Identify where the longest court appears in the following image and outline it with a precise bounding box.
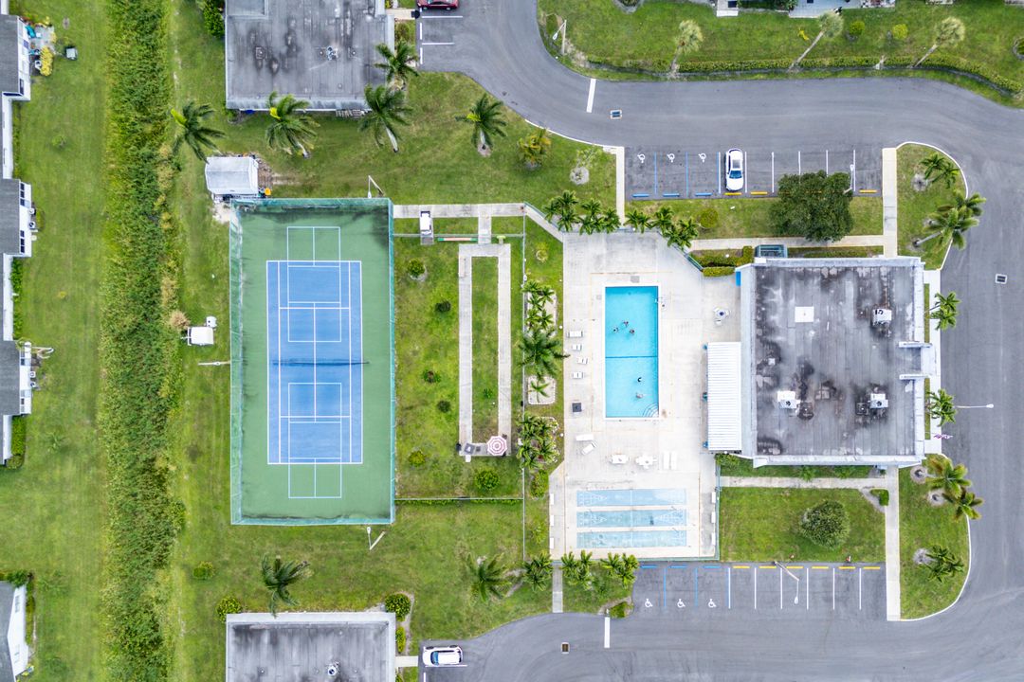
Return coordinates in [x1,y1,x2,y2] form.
[241,204,389,517]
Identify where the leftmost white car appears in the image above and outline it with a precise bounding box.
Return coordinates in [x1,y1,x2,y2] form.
[421,648,461,671]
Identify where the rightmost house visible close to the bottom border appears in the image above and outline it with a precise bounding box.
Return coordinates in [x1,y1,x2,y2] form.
[226,611,395,682]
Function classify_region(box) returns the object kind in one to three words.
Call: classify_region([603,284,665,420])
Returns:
swimming pool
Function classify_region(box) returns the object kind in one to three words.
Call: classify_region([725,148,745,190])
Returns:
car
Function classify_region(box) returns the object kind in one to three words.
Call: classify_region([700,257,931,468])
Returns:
building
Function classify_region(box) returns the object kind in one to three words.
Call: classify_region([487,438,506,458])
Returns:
umbrella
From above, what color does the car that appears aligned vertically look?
white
